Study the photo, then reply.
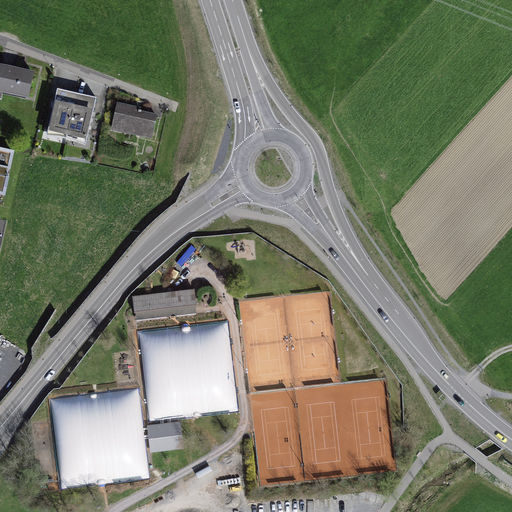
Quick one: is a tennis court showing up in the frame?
Yes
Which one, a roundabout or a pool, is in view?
roundabout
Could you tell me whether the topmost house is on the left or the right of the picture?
left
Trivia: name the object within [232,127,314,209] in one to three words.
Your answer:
roundabout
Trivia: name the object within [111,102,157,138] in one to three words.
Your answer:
house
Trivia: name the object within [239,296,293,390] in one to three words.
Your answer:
tennis court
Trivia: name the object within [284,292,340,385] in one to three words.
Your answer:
tennis court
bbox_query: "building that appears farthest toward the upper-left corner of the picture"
[0,64,34,98]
